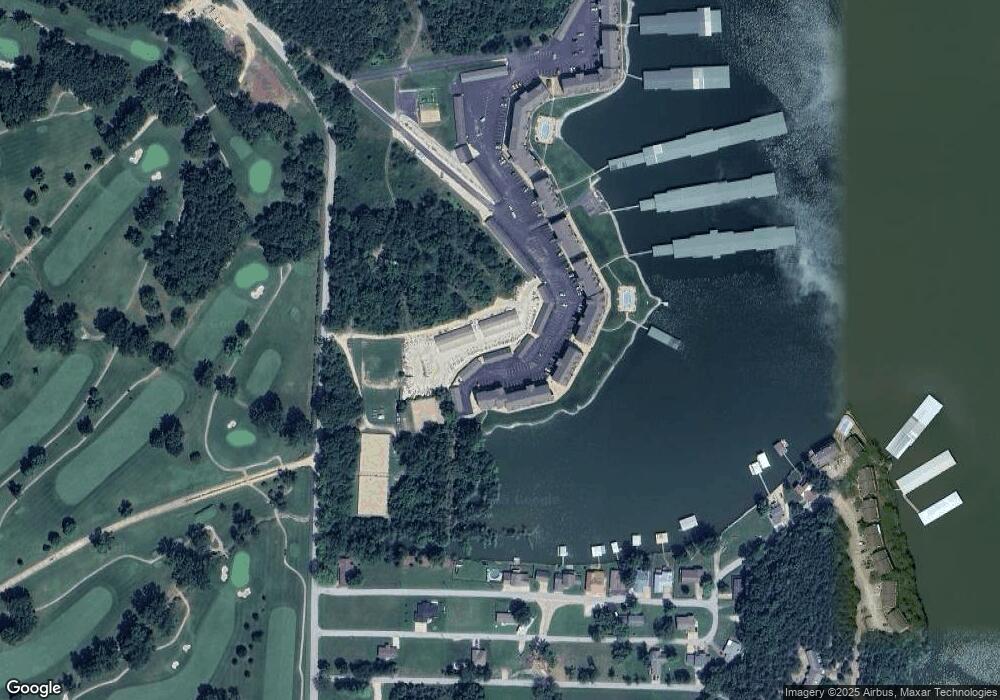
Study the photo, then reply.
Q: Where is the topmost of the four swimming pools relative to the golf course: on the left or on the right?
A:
to the right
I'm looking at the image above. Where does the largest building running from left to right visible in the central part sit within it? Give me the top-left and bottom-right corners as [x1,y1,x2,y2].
[477,383,552,409]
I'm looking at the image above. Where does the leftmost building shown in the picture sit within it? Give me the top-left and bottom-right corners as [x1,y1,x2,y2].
[338,560,353,590]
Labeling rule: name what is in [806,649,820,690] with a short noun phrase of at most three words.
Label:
building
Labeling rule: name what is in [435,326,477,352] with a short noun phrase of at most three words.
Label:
shed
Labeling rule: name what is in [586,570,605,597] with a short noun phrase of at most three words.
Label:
house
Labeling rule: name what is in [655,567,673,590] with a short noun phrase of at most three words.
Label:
house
